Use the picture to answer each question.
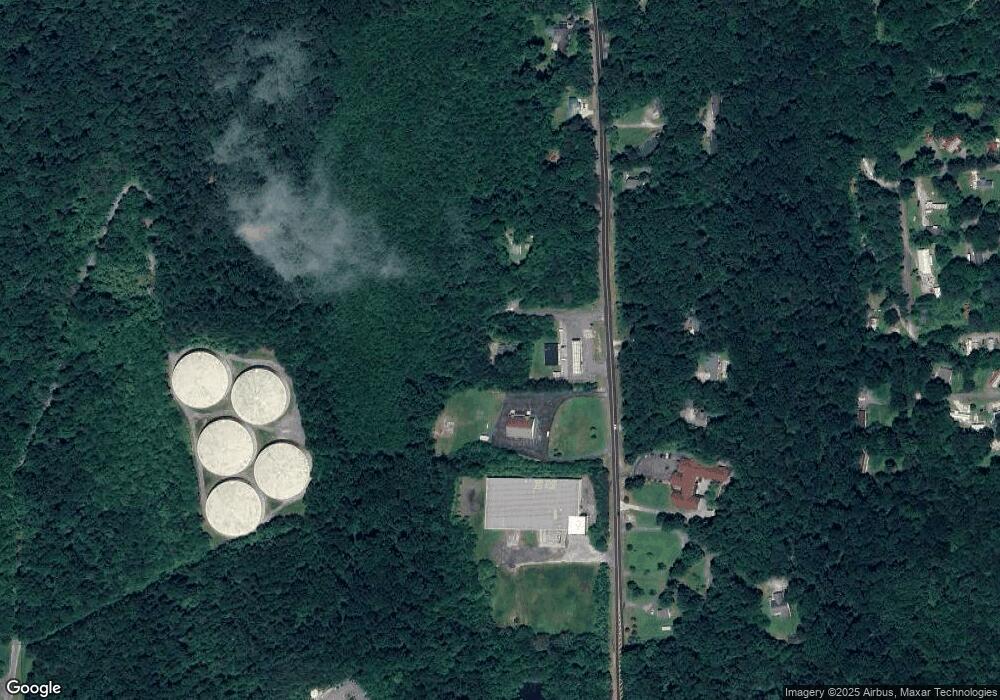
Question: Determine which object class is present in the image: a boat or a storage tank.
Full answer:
Looking from above, you can make out a storage tank.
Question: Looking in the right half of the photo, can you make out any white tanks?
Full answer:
No, the scene shows no white tank in the right half of the photo.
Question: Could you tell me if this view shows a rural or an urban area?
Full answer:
The area is rural.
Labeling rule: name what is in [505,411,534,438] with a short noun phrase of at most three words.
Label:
building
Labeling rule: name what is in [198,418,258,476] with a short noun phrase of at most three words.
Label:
storage tank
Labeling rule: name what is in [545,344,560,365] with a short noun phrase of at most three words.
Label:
building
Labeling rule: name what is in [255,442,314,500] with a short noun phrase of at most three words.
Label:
storage tank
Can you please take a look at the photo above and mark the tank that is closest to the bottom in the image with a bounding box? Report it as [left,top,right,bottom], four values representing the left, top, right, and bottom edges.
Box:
[206,478,266,537]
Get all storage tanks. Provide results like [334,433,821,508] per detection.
[198,418,258,476]
[255,442,314,500]
[206,478,266,537]
[232,367,292,426]
[173,351,232,409]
